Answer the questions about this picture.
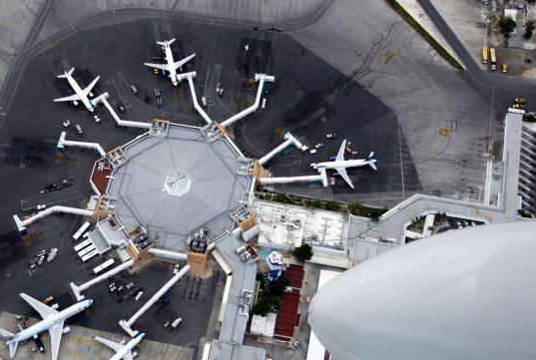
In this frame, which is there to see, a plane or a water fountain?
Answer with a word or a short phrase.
plane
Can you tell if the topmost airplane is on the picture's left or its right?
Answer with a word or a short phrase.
left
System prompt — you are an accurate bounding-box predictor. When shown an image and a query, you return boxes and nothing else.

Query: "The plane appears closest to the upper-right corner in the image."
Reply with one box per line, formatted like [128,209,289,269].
[313,139,377,187]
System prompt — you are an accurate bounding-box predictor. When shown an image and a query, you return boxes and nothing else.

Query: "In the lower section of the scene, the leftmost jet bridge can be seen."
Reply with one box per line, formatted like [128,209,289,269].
[13,205,93,235]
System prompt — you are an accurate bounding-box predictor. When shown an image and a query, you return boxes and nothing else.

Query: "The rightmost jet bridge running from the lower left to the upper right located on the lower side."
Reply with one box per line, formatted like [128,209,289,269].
[118,266,191,339]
